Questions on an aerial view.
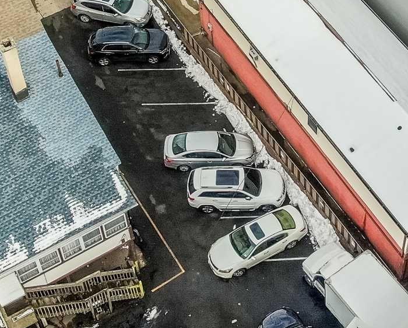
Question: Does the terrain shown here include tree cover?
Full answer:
No, no tree cover is visible.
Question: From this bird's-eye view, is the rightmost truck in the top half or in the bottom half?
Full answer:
You can find the rightmost truck in the bottom half.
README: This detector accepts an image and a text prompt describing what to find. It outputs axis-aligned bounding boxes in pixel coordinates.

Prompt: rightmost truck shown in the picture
[296,245,408,328]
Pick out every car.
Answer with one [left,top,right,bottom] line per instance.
[68,0,150,26]
[188,163,286,214]
[160,125,255,172]
[86,23,169,65]
[206,204,307,280]
[262,305,315,328]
